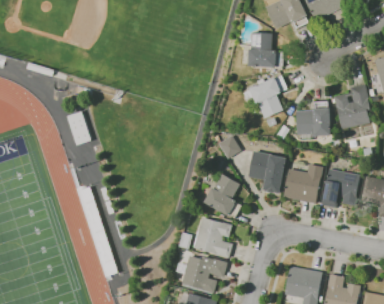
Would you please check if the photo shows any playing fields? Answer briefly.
Yes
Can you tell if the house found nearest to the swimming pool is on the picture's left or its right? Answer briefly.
right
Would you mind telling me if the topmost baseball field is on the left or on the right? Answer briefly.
left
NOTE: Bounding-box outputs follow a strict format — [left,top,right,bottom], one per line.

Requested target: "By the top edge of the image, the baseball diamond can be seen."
[0,0,233,114]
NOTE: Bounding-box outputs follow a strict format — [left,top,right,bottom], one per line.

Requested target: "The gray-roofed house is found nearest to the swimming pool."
[248,30,277,67]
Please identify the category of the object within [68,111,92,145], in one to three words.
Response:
building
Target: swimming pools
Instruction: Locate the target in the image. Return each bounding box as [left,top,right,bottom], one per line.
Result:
[241,20,260,44]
